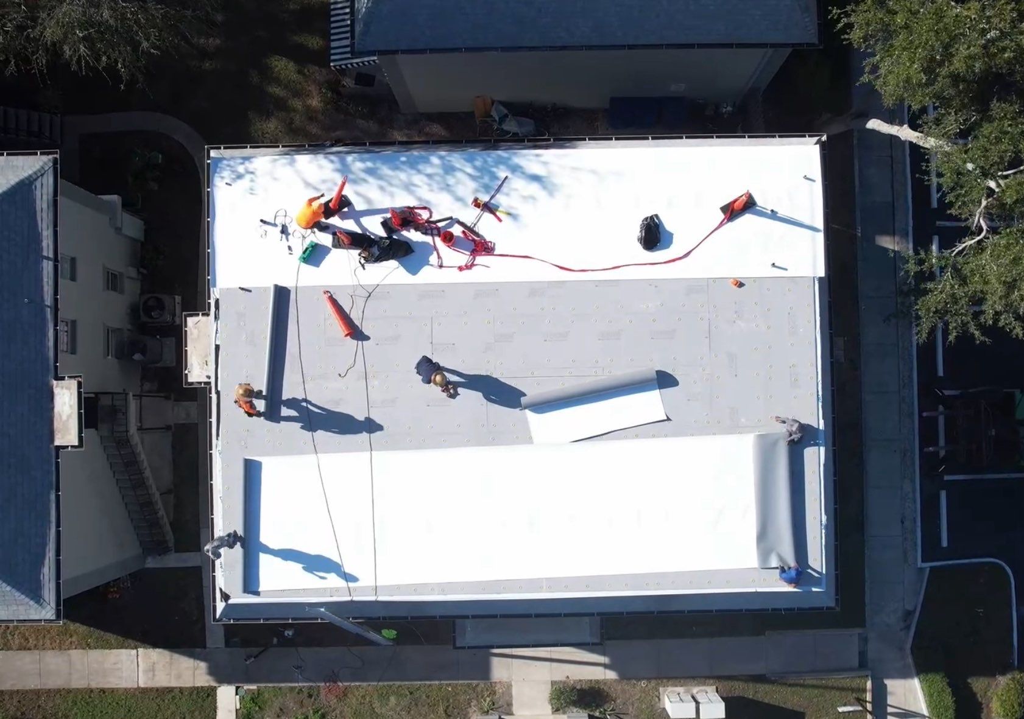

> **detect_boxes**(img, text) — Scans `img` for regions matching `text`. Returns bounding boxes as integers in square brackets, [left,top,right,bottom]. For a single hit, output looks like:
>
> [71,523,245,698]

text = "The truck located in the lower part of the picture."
[922,389,1024,474]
